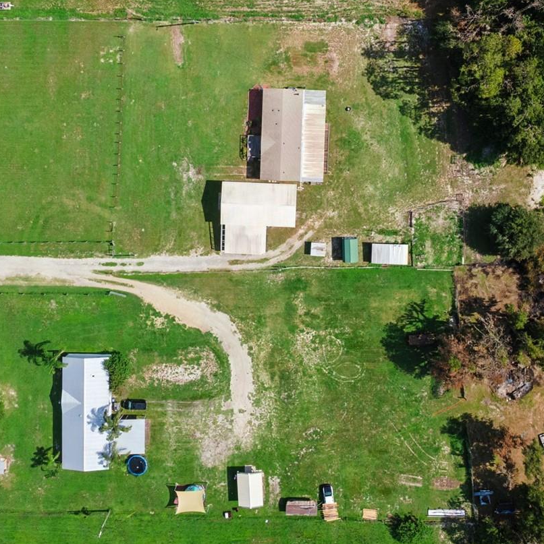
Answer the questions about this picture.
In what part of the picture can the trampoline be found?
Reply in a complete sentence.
Look in the bottom left portion of the view to spot the trampoline.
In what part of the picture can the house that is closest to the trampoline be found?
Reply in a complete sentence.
The house that is closest to the trampoline appears toward the bottom left of the photo.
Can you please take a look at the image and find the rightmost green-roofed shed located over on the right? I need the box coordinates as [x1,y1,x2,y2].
[342,232,357,263]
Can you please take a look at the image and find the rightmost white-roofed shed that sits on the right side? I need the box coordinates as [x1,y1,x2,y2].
[370,242,409,266]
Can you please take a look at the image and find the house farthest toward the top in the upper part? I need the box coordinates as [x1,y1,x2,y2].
[259,85,327,184]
